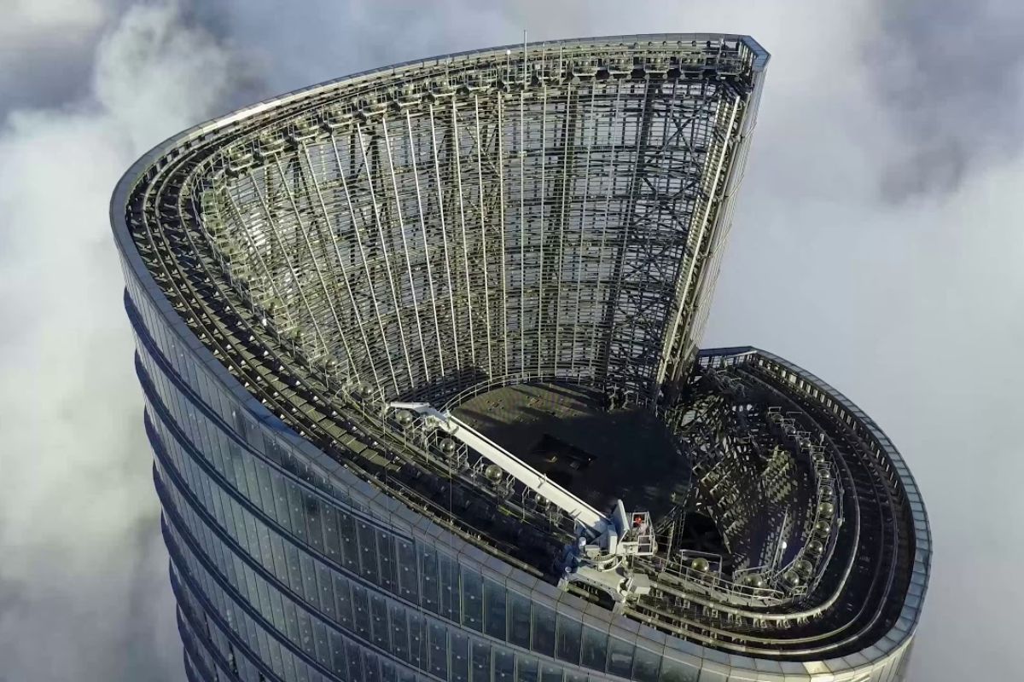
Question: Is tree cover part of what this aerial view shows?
No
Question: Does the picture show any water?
Yes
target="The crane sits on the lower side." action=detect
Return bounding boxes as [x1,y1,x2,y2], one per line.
[384,400,657,678]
